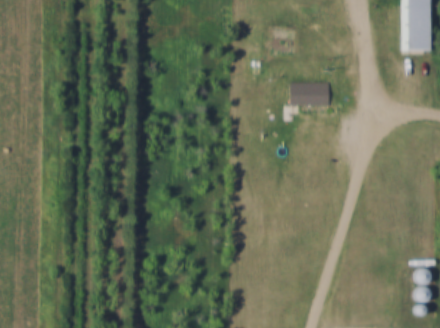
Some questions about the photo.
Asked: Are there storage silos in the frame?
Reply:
Yes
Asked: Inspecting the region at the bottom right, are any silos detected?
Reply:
Yes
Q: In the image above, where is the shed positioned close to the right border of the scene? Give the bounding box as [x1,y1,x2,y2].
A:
[400,0,432,54]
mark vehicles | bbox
[422,62,428,76]
[404,56,412,76]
